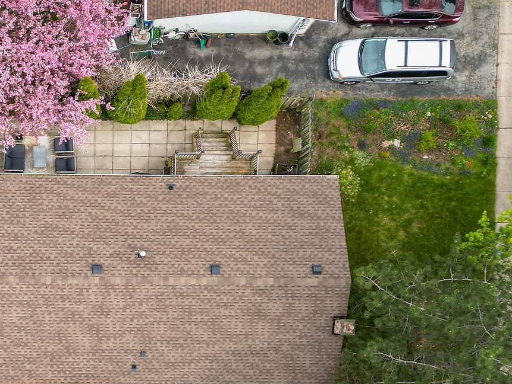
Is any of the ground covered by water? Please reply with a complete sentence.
No, there's no water in this view.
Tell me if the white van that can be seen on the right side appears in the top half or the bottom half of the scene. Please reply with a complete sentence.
The top half of the photo is where the white van that can be seen on the right side is.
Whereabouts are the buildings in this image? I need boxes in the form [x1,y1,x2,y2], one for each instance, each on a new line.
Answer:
[0,170,358,384]
[142,0,340,36]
